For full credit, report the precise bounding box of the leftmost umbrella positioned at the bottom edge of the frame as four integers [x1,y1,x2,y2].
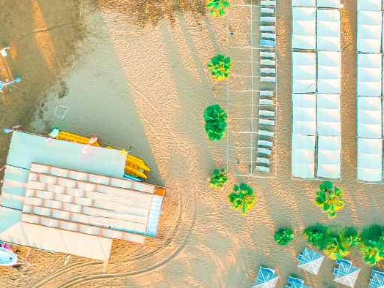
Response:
[251,269,279,288]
